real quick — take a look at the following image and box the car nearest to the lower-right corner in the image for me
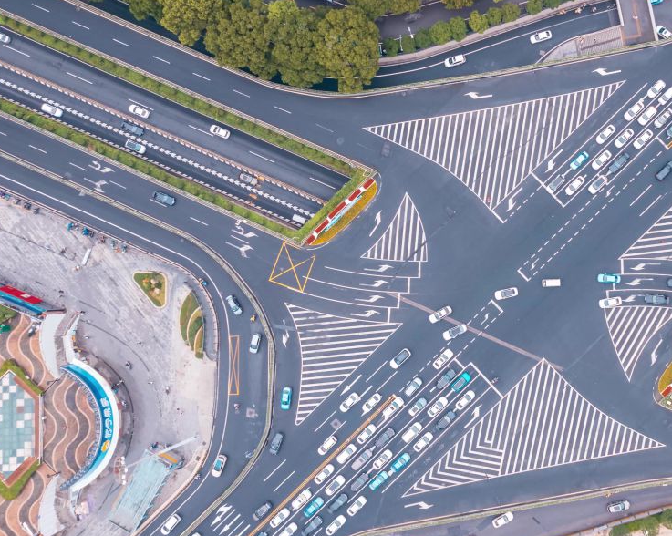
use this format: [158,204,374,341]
[607,500,631,514]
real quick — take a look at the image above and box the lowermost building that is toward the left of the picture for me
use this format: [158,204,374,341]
[58,357,124,494]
